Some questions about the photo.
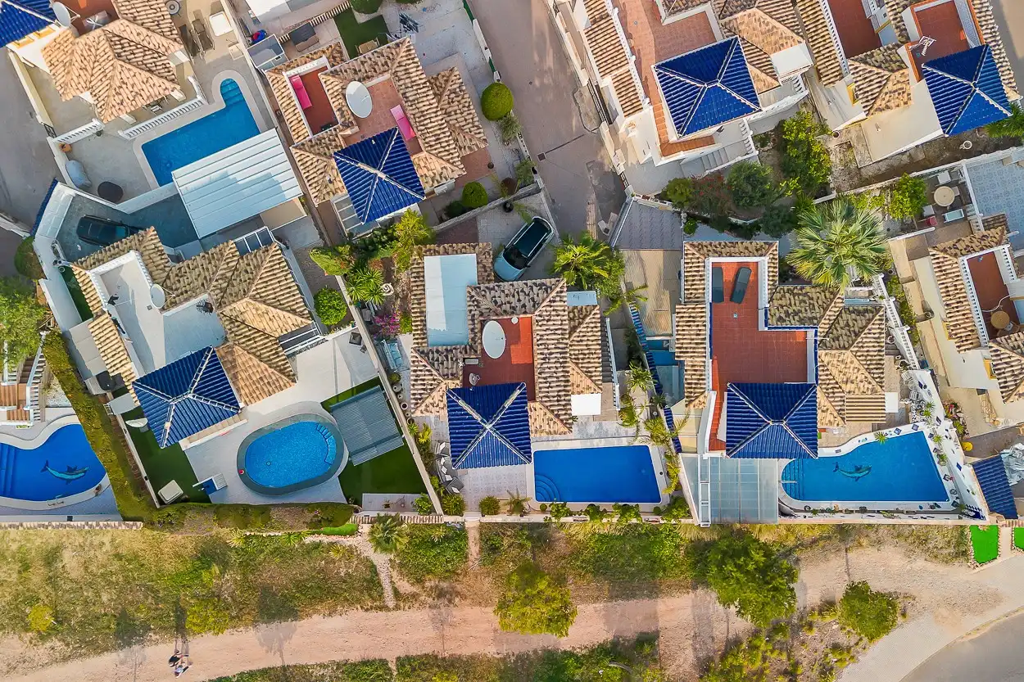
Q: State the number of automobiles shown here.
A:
two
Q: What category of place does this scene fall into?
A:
residential area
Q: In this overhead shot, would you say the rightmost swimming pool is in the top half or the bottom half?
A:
bottom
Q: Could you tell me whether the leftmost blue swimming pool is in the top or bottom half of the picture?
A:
bottom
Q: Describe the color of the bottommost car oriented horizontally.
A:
black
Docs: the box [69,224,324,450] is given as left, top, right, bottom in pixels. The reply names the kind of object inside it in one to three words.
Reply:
house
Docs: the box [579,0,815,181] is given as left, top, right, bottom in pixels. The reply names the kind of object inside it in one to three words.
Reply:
house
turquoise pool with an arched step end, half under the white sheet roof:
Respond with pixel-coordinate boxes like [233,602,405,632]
[130,68,294,207]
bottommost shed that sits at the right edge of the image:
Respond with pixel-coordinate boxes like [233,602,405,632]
[967,455,1018,519]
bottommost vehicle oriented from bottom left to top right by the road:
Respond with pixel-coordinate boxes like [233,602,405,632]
[493,213,555,282]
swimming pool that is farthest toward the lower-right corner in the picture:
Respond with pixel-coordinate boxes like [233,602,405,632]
[774,423,959,510]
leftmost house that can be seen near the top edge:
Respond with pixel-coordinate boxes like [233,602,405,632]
[0,0,203,132]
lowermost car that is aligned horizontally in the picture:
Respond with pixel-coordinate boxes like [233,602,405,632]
[76,214,149,246]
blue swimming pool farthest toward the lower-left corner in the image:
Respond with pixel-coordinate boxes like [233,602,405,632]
[0,415,111,509]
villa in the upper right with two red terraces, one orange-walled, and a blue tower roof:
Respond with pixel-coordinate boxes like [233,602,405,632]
[795,0,1021,165]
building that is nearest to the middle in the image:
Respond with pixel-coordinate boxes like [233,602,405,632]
[408,240,620,471]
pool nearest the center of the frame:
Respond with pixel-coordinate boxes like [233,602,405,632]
[528,439,668,509]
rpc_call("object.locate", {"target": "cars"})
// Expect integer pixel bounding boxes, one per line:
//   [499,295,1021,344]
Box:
[493,213,555,282]
[76,214,149,246]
